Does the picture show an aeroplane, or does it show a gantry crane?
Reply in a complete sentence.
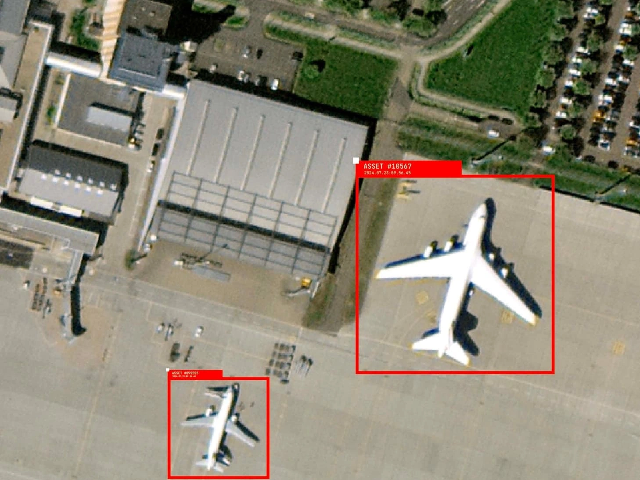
Visible in the photo is an aeroplane.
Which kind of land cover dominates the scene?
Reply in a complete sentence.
Most of the picture is covered by paved ground.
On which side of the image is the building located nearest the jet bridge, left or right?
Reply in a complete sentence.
You can find the building located nearest the jet bridge on the left side of the picture.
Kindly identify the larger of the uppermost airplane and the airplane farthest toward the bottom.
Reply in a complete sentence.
Of the two, the uppermost airplane is larger and the airplane farthest toward the bottom is the smaller one.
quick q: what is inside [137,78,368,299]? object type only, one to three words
hangar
